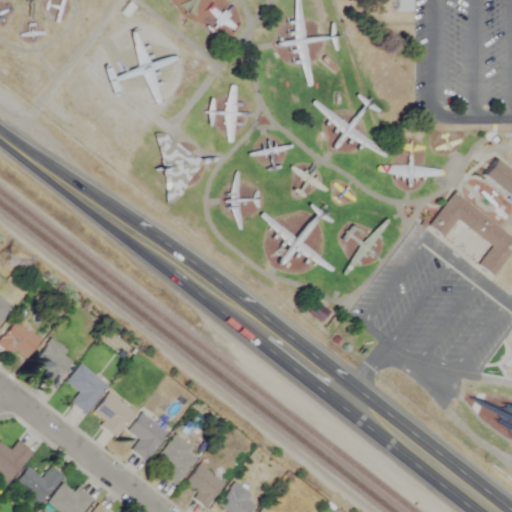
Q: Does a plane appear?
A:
Yes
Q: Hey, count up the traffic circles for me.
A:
none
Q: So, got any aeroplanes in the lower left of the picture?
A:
No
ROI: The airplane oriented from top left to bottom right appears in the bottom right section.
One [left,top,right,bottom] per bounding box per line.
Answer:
[470,397,512,435]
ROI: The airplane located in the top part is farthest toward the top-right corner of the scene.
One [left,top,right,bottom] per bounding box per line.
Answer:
[435,132,464,150]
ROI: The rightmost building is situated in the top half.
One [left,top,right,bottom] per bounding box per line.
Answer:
[482,156,512,192]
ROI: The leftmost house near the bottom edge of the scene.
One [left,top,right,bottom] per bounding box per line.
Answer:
[0,441,33,488]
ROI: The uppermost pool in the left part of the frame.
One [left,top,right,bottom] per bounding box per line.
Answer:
[168,401,182,418]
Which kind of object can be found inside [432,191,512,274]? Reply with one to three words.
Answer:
building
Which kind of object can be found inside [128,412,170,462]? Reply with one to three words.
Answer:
house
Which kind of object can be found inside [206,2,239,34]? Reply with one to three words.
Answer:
airplane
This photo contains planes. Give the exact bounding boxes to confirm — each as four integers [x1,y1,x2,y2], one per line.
[470,397,512,435]
[260,203,336,272]
[333,182,358,204]
[343,218,392,276]
[225,170,262,230]
[46,0,66,22]
[104,30,178,104]
[204,84,256,142]
[292,166,330,198]
[20,21,46,39]
[249,140,294,172]
[0,6,10,24]
[377,140,446,188]
[314,92,388,156]
[206,2,239,34]
[435,132,464,150]
[278,0,342,86]
[156,132,220,204]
